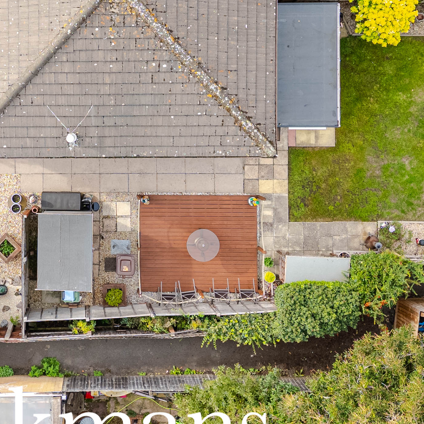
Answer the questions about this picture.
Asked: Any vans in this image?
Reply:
No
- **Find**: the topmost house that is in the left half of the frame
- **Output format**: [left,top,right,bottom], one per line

[0,0,285,160]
